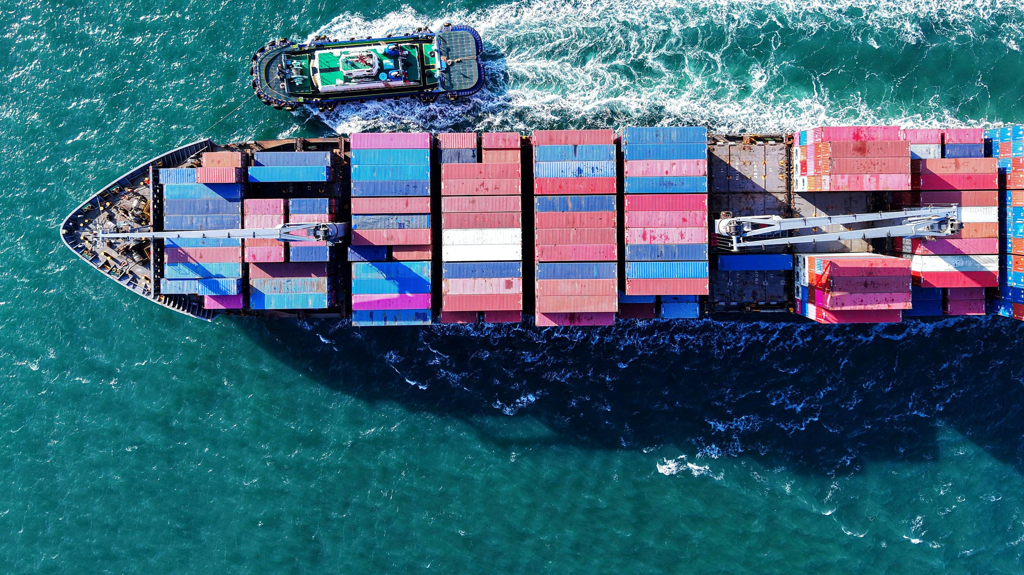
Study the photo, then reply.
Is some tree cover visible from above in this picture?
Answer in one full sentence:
No, no tree cover is visible.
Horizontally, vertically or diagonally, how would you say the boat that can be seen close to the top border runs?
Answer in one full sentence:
Seen from above, the boat that can be seen close to the top border lies horizontally.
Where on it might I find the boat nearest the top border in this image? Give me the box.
[249,24,484,110]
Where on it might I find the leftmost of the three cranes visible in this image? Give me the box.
[97,215,354,247]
